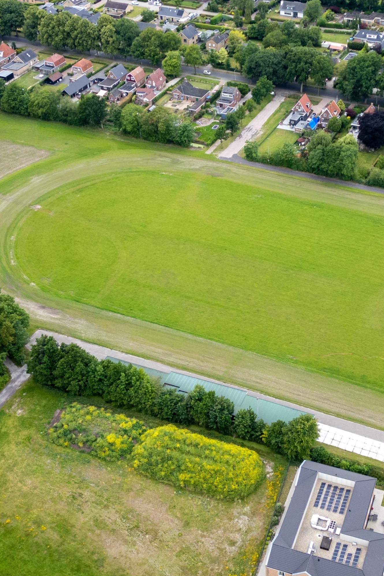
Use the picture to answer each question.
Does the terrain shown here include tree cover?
Yes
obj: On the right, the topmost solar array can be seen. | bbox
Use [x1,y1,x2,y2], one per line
[313,482,351,514]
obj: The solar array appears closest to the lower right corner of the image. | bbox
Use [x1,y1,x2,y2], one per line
[331,542,361,566]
